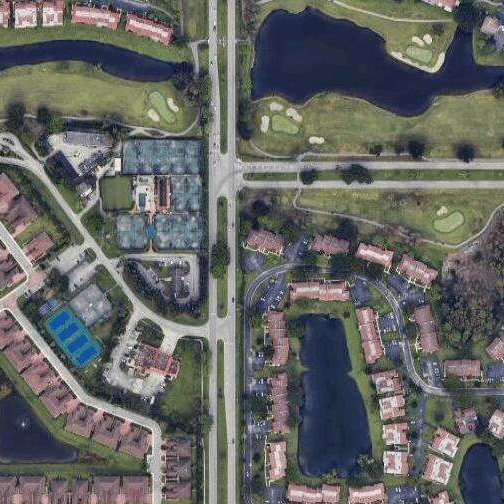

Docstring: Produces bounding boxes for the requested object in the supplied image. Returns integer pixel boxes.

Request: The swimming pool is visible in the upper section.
[135,176,154,213]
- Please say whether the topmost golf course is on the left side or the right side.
right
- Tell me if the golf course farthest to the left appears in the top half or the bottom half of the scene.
top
